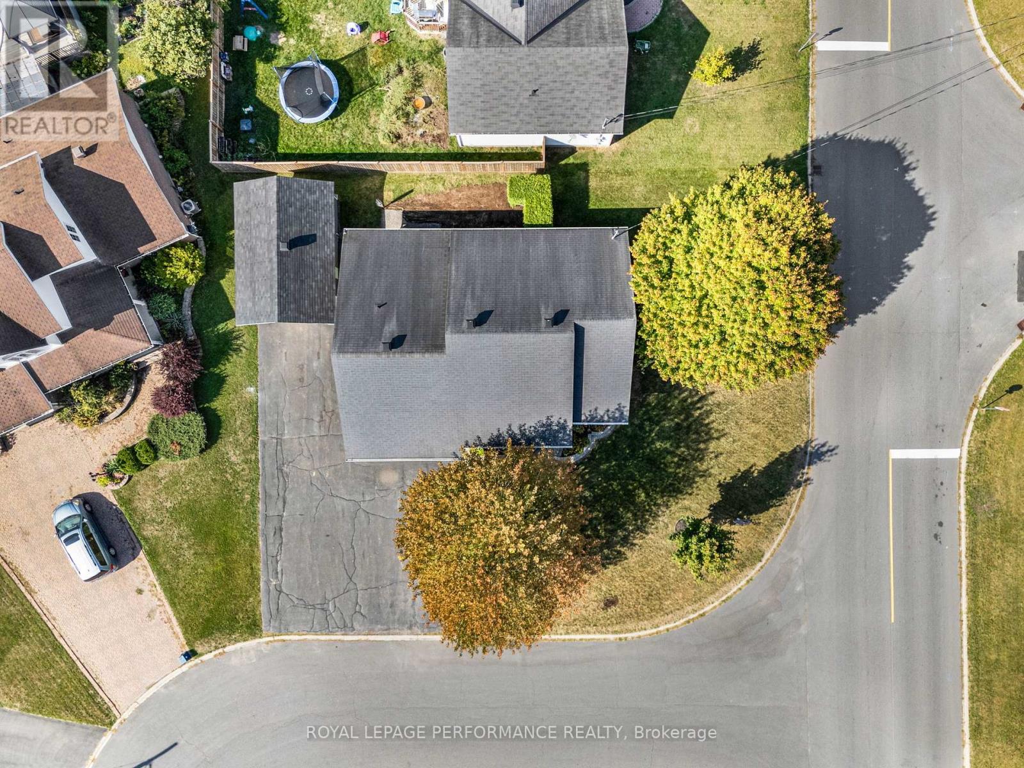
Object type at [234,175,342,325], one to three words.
building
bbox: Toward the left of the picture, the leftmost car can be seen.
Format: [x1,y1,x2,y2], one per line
[55,498,115,583]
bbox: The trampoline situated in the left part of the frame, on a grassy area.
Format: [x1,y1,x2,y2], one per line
[274,49,342,126]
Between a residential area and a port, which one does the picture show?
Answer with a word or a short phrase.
residential area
